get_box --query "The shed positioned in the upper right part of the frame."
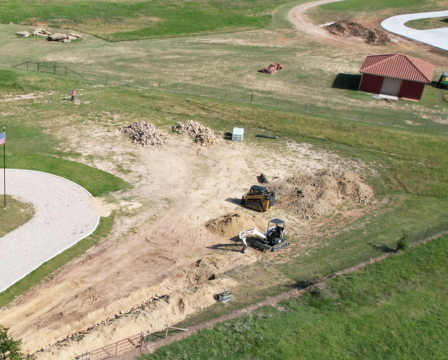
[358,52,434,100]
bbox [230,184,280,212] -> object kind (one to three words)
work vehicle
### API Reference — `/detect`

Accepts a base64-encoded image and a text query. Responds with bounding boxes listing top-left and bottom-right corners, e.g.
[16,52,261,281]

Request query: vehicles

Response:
[239,217,293,255]
[438,71,448,88]
[230,184,280,212]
